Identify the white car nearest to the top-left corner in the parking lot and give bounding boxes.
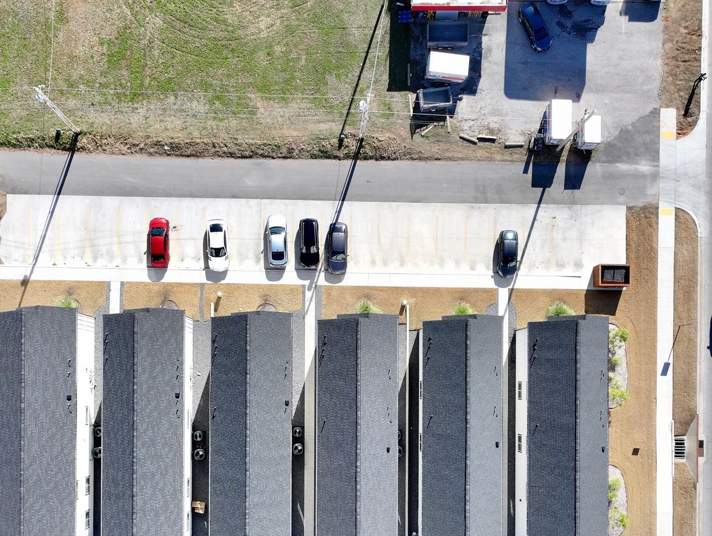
[205,220,229,272]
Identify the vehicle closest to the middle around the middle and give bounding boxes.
[326,223,350,275]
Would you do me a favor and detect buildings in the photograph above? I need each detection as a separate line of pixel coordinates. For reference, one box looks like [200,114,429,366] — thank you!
[0,305,95,536]
[515,313,610,536]
[209,308,293,536]
[316,312,399,536]
[100,306,193,536]
[419,313,504,536]
[410,0,508,23]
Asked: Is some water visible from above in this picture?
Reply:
No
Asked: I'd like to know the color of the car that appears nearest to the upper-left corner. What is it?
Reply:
red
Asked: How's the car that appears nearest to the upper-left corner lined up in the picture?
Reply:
up and down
